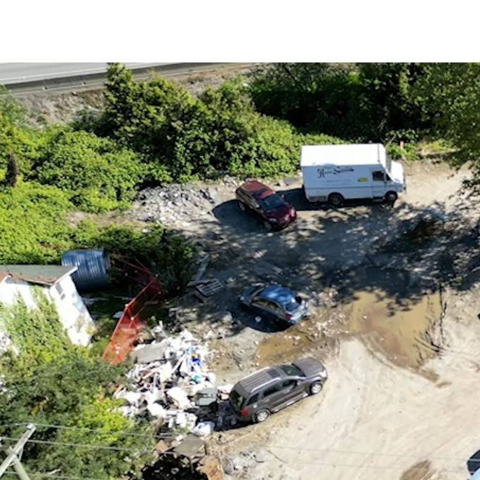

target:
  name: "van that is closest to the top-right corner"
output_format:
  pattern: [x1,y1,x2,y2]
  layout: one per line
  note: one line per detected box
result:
[292,141,405,206]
